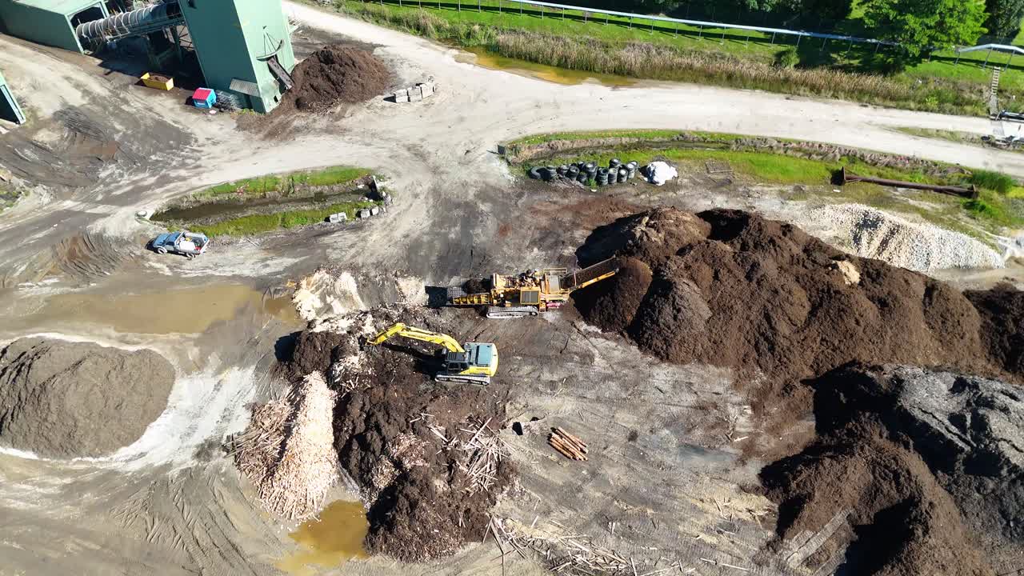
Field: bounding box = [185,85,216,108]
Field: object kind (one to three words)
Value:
shed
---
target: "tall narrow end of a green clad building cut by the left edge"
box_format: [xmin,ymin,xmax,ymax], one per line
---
[0,62,32,123]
